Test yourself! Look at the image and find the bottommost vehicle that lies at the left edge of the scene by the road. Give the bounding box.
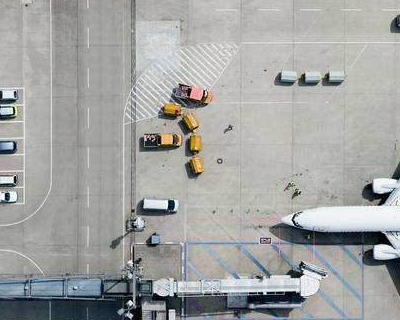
[0,190,18,202]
